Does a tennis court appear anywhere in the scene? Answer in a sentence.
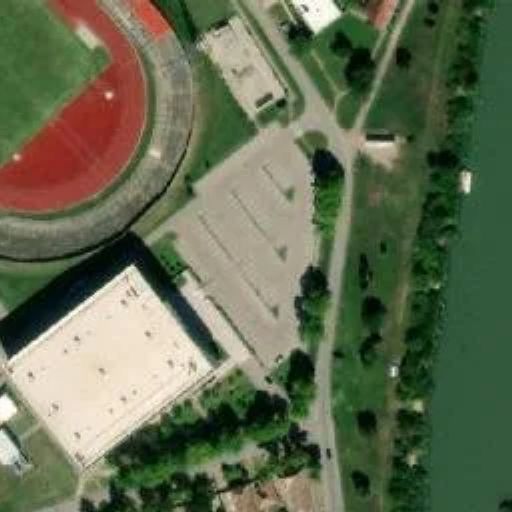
No, the picture doesn't show any tennis court.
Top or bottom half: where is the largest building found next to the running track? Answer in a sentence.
The largest building found next to the running track sits in the bottom half of the picture.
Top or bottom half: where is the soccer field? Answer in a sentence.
Seen from above, the soccer field lies in the top half of the view.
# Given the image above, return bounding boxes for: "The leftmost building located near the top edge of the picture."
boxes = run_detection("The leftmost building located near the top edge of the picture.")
[200,18,286,119]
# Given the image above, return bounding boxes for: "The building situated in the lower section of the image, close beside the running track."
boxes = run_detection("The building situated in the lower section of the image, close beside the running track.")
[8,266,214,467]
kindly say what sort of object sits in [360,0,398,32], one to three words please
house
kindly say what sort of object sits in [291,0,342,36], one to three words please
building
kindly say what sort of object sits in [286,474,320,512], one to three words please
house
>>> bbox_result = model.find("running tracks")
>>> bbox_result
[0,0,149,214]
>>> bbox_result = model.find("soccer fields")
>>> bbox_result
[0,0,111,168]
